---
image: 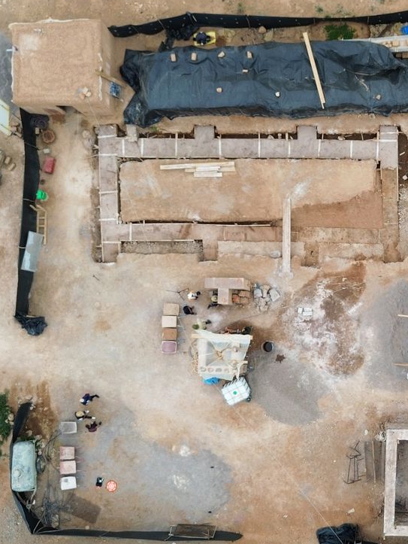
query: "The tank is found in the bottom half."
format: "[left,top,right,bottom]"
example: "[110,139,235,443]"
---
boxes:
[220,374,253,402]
